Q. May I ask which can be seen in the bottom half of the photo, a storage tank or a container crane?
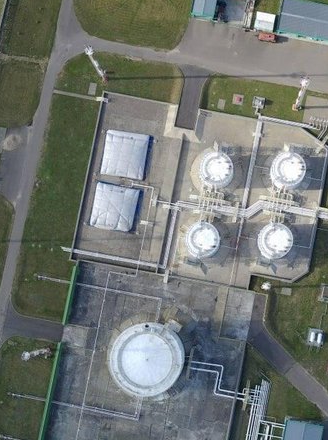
storage tank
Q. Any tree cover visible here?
No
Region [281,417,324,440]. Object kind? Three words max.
building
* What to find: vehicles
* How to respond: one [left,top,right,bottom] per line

[259,31,276,42]
[244,0,256,27]
[218,1,227,17]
